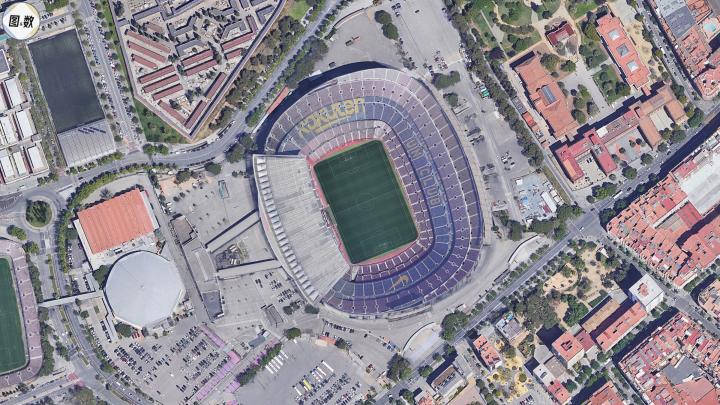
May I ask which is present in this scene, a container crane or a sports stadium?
sports stadium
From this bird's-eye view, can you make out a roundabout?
Yes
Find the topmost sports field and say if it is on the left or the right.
left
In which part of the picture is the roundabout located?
left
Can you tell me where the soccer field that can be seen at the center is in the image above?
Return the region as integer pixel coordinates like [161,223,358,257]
[309,140,419,267]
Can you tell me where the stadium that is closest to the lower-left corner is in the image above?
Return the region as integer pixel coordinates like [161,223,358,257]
[0,239,43,393]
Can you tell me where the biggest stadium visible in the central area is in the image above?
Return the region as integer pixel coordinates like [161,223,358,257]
[252,68,486,326]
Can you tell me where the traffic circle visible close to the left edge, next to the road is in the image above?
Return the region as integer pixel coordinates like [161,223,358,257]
[15,189,65,237]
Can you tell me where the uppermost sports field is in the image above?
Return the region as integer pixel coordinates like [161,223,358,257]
[24,25,108,137]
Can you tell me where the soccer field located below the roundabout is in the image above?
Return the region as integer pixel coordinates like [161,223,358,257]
[0,259,23,371]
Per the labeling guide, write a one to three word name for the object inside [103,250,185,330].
stadium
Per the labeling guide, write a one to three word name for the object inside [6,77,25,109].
building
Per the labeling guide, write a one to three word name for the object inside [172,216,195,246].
building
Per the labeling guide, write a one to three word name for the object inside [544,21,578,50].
house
